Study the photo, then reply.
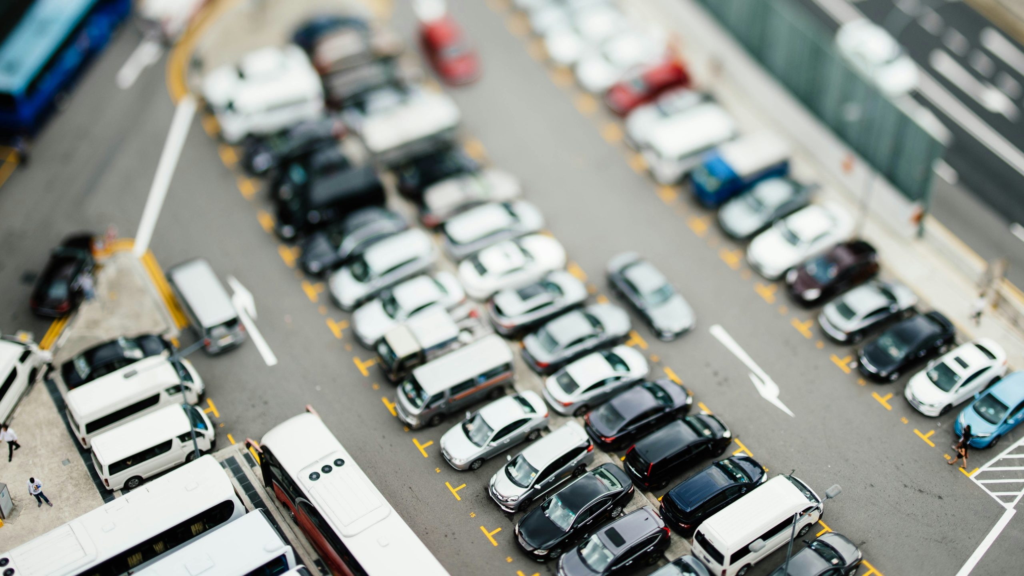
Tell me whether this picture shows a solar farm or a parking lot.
parking lot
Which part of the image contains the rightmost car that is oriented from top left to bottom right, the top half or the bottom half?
top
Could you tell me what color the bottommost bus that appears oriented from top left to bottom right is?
white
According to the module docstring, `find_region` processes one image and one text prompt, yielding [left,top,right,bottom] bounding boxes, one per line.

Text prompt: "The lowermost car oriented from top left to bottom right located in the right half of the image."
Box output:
[610,257,690,342]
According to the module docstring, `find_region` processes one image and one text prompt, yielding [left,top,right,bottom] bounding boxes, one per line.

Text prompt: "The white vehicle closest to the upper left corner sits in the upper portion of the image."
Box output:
[135,0,205,46]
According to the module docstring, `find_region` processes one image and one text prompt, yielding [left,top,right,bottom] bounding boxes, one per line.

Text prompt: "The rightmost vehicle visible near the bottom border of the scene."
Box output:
[759,532,862,576]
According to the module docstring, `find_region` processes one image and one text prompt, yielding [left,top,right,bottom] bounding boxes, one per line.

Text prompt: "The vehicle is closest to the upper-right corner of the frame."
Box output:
[843,12,920,81]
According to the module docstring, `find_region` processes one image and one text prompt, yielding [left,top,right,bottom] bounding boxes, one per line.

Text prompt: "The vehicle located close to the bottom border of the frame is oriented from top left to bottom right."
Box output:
[241,401,447,576]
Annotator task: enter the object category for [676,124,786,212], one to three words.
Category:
truck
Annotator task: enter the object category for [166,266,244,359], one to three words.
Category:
van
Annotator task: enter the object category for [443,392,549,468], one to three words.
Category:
car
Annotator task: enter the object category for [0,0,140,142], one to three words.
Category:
bus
